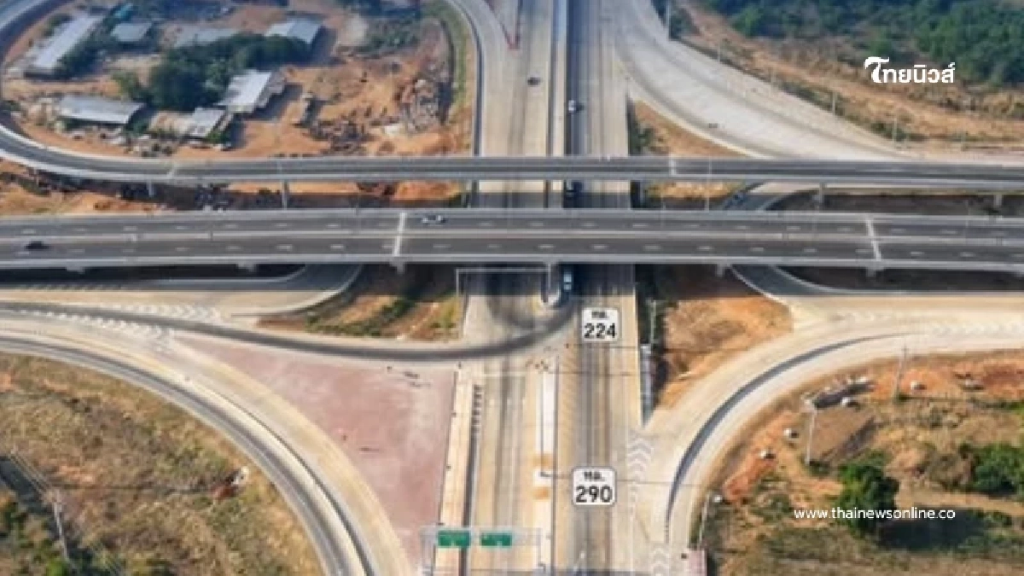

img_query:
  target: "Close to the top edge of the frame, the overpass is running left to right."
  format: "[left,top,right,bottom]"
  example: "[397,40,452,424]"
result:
[0,0,1024,203]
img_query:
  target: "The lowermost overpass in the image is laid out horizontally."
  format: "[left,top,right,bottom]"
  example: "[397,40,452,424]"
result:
[0,209,1024,280]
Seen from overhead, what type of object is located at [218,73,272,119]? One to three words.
shed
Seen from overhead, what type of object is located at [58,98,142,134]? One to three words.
shed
